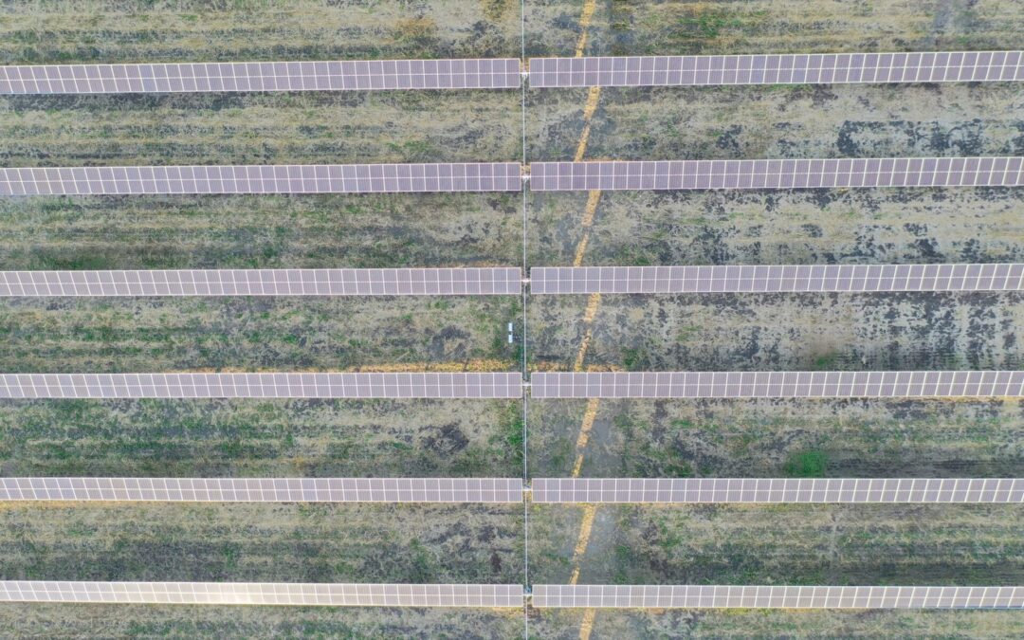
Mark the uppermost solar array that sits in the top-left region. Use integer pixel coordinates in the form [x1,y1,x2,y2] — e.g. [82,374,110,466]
[0,59,520,93]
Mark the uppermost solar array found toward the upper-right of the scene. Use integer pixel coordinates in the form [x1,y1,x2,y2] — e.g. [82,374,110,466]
[530,52,1024,86]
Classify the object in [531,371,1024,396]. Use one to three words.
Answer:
solar array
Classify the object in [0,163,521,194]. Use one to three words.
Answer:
solar array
